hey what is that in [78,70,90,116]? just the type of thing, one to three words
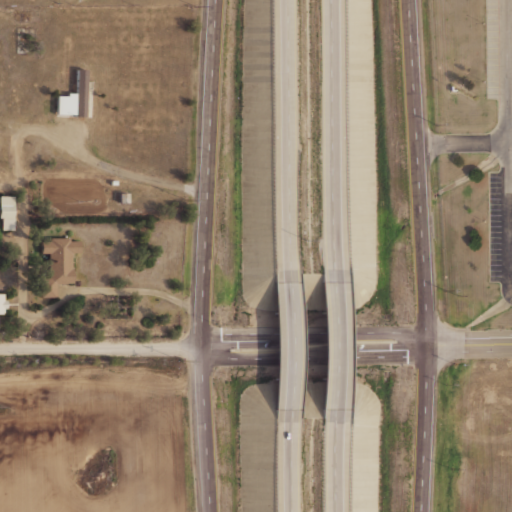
barn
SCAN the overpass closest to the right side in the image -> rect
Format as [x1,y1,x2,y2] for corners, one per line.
[324,262,356,428]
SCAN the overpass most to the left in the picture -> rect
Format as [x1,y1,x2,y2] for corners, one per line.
[277,262,308,428]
